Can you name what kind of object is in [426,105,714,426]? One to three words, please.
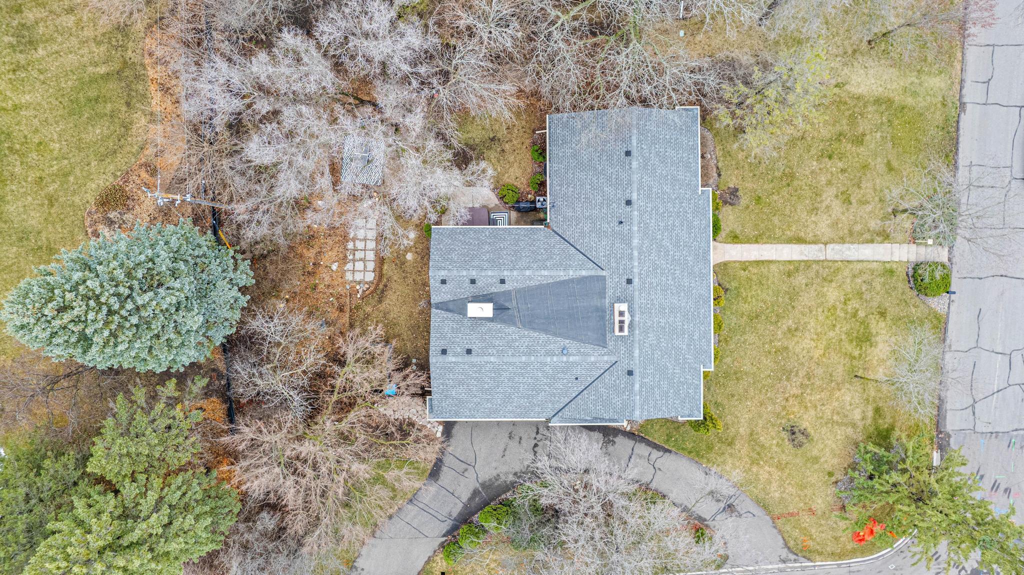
house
